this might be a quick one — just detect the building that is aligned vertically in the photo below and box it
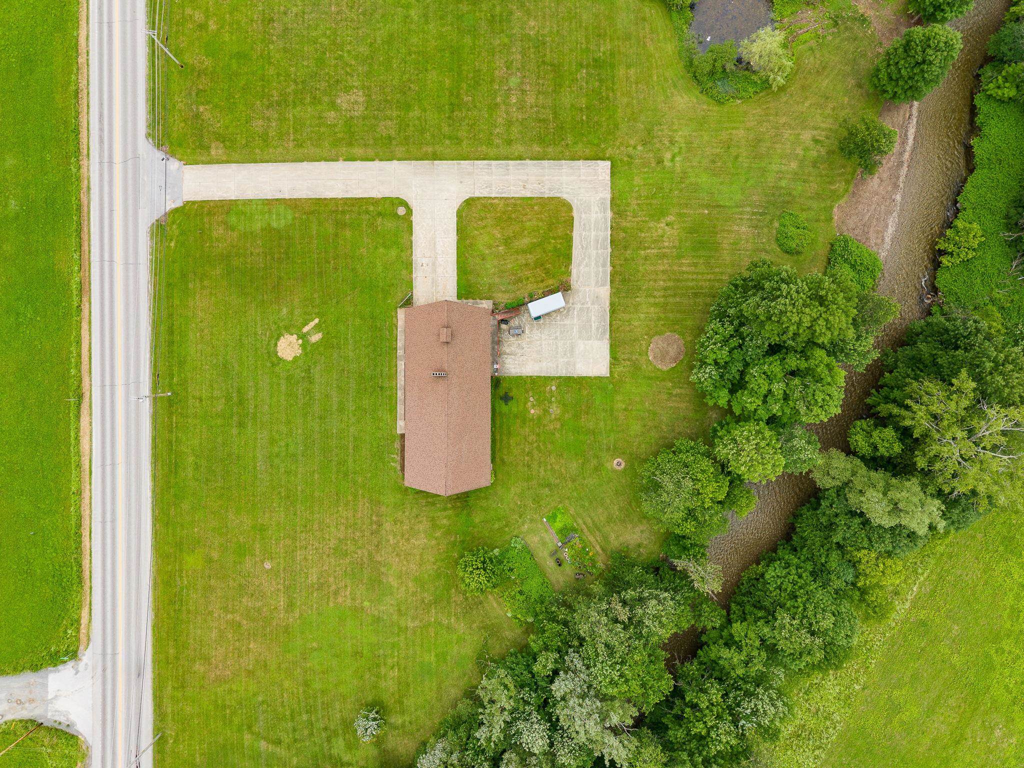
[404,300,498,496]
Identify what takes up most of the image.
grass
